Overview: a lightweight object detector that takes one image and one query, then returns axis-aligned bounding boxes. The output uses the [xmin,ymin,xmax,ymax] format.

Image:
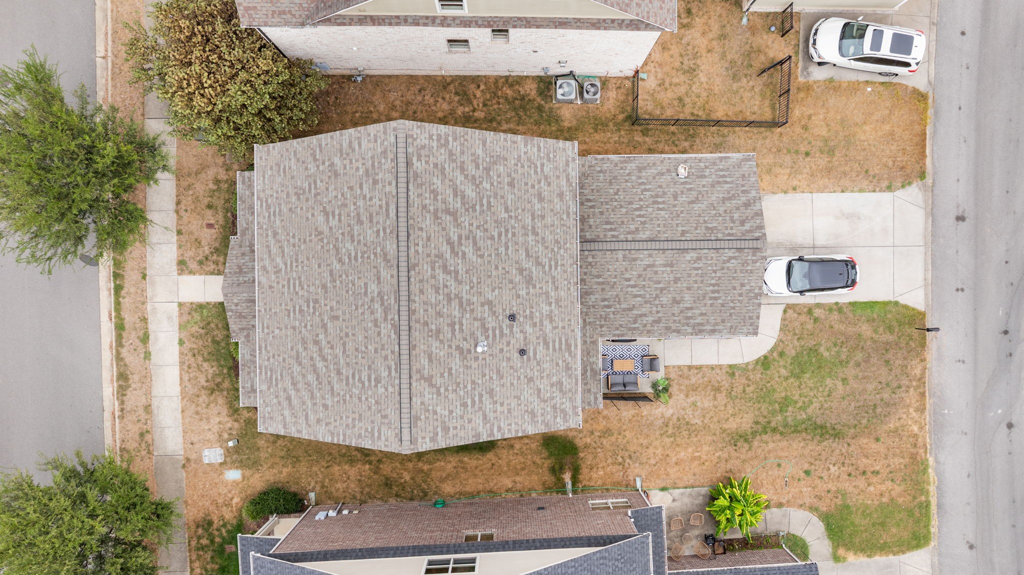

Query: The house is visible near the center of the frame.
[220,118,768,454]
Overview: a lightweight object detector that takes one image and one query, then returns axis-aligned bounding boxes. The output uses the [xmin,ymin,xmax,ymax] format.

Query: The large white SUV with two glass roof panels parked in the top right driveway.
[808,17,926,77]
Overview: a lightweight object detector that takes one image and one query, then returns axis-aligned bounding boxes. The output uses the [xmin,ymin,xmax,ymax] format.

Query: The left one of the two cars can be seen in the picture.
[763,252,860,300]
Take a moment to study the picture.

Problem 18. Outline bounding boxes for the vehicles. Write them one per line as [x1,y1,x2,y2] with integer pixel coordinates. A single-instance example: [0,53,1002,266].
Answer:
[808,17,926,77]
[763,252,860,300]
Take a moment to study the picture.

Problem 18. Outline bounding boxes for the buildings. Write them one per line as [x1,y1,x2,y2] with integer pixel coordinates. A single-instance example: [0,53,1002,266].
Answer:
[743,0,916,12]
[220,118,768,454]
[231,0,680,76]
[236,492,670,575]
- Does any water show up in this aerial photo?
No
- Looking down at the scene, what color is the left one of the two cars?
white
